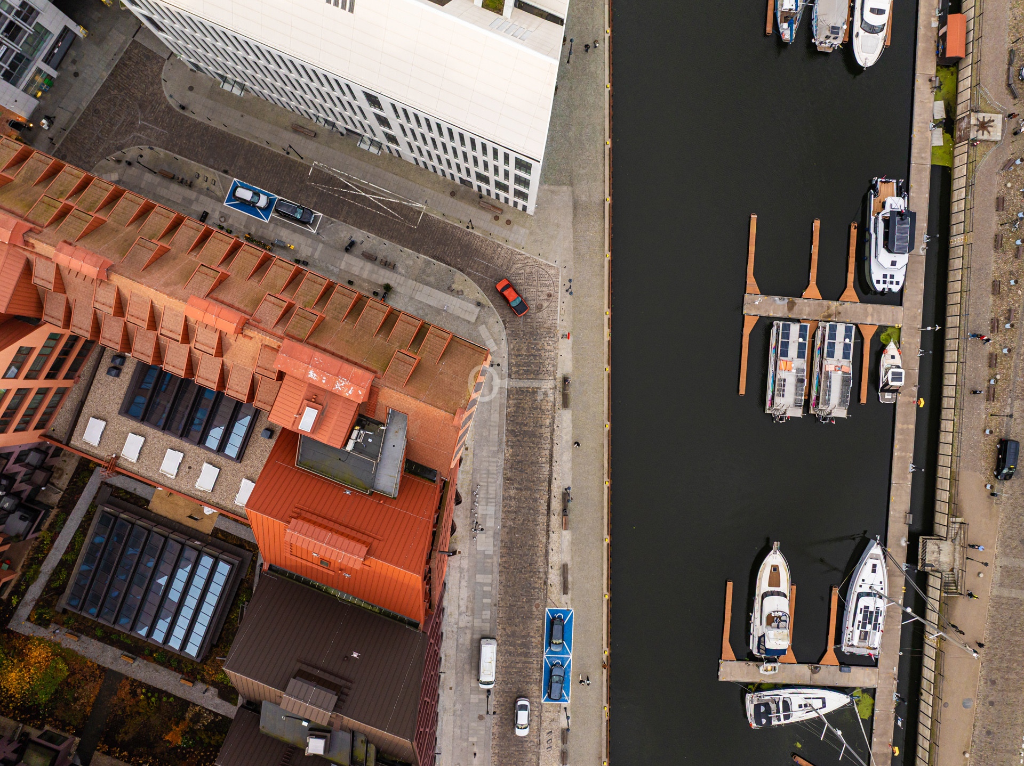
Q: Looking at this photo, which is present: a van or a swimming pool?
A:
van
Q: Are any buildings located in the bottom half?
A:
Yes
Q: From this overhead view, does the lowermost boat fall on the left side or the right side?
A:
right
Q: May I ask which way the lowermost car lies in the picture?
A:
from top to bottom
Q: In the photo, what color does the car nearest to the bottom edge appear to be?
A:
white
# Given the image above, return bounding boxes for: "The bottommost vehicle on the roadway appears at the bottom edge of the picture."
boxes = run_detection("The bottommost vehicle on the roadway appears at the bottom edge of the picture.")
[511,698,532,741]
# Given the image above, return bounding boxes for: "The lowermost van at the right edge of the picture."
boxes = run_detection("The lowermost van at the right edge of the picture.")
[991,433,1022,480]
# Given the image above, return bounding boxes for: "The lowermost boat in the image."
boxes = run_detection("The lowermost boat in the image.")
[732,682,880,766]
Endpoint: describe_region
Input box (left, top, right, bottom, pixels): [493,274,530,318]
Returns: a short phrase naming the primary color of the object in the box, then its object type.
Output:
red car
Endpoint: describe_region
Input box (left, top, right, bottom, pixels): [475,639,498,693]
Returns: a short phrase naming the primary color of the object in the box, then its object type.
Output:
white vehicle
